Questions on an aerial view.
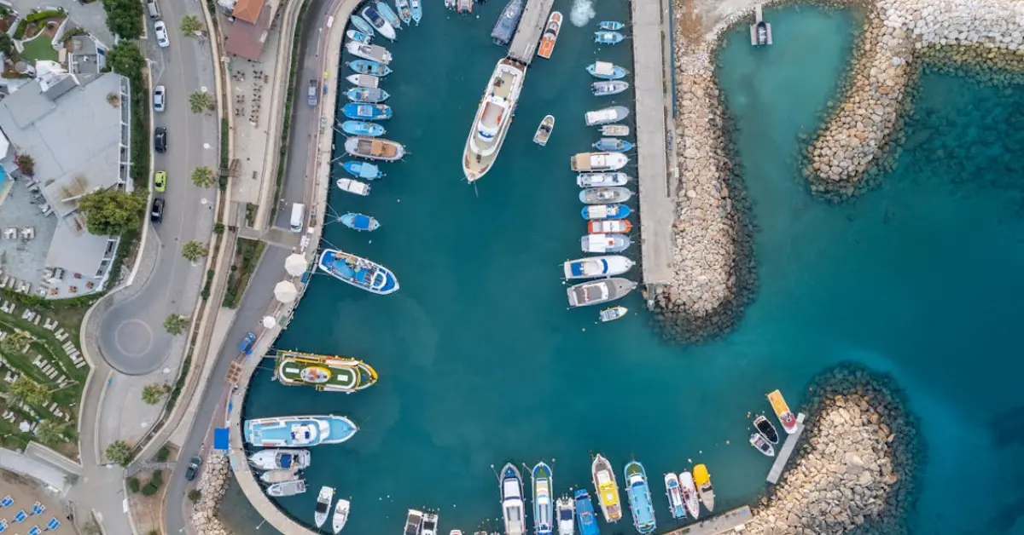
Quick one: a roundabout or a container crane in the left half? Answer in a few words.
roundabout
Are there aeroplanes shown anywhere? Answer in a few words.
No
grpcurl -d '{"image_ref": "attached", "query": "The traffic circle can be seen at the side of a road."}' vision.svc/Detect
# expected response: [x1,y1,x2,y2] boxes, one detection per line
[98,303,171,375]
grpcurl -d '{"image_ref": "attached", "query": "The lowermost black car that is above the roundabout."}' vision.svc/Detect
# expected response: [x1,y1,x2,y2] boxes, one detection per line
[151,198,168,224]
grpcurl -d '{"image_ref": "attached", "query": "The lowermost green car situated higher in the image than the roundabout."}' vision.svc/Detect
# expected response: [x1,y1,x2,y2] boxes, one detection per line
[155,171,169,192]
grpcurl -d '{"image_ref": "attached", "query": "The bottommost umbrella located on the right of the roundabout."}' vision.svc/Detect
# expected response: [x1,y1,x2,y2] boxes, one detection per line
[264,315,278,329]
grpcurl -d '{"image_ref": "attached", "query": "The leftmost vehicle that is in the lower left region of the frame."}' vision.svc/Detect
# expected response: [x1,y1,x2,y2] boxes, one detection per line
[184,454,204,482]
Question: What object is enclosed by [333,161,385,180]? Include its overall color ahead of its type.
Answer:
blue boat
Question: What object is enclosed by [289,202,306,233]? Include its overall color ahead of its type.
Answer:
white vehicle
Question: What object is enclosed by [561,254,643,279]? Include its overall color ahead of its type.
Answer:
white boat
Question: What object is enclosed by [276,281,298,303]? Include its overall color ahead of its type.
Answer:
white umbrella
